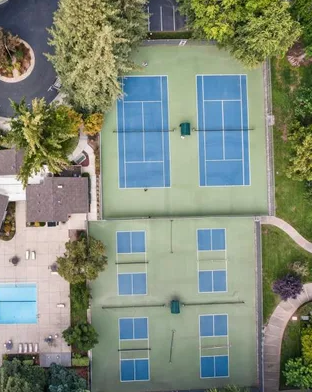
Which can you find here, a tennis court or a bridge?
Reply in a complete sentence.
The image shows a tennis court.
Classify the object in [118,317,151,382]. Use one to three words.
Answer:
sports court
